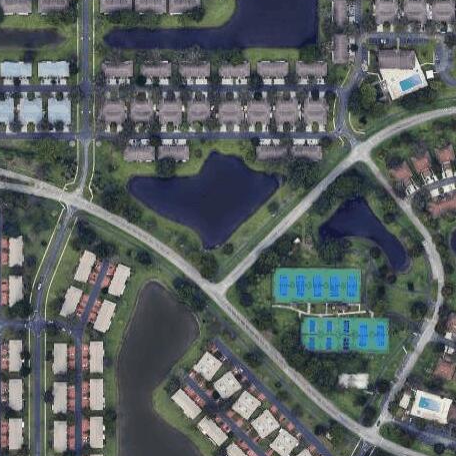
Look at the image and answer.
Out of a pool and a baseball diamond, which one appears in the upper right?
pool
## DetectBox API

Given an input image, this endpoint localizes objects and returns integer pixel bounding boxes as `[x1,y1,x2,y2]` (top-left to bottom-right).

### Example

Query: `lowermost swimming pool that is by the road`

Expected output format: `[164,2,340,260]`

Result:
[412,391,452,424]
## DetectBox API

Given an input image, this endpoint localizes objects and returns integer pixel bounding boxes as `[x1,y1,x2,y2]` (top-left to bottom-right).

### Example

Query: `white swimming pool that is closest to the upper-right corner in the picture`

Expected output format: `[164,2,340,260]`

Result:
[380,57,429,101]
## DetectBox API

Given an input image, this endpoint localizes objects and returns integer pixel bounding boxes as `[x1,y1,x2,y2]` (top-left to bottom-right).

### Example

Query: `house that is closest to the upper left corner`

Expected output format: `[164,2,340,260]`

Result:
[2,0,32,15]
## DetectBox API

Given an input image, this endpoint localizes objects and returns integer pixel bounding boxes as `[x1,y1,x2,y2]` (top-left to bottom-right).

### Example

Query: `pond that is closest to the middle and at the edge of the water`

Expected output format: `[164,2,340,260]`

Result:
[320,199,408,271]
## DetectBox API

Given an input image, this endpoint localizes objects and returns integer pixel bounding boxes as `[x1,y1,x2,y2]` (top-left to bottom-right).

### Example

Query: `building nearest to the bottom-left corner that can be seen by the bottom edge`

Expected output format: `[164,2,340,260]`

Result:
[10,418,24,449]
